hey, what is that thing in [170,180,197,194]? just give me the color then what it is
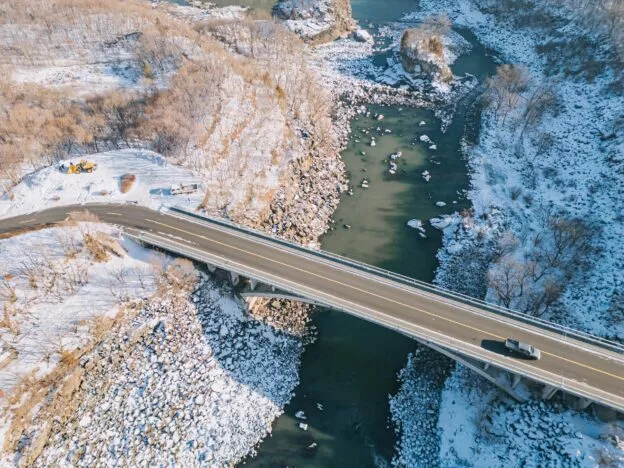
white vehicle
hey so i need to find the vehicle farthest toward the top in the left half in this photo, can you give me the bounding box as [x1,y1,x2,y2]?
[65,157,101,175]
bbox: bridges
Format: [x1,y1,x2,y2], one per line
[118,199,624,430]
